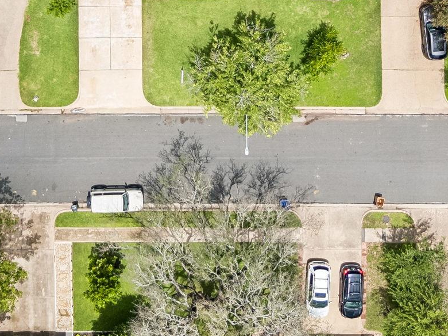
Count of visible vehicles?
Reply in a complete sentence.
Altogether the scene contains 4 vehicles.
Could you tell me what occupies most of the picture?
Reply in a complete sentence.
The scene is dominated by paved ground.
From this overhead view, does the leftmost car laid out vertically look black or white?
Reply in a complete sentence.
The color of the leftmost car laid out vertically is white.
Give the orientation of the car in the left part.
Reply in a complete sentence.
The car in the left part has been laid out from left to right relative to the frame.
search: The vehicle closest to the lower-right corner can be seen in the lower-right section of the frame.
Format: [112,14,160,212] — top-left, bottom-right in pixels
[338,260,364,315]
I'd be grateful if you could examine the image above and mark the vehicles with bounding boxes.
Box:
[306,258,332,316]
[86,184,141,212]
[417,3,446,60]
[338,260,364,315]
